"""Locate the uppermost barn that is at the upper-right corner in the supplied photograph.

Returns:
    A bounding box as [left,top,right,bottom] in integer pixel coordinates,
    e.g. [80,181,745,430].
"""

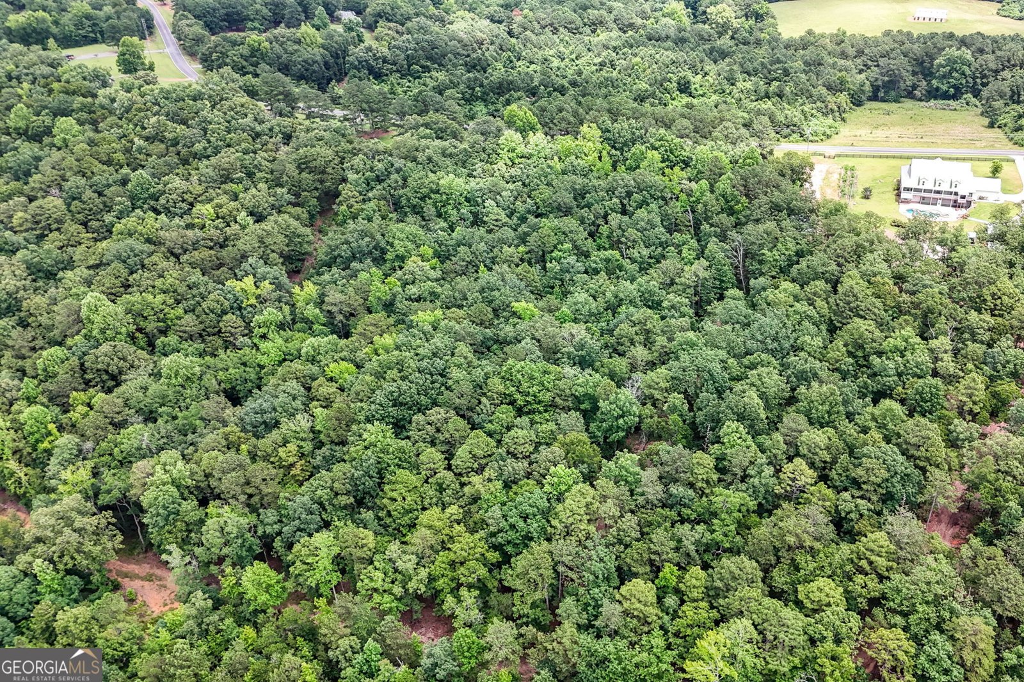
[911,9,949,22]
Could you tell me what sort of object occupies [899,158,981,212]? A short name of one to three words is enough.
house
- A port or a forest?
forest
